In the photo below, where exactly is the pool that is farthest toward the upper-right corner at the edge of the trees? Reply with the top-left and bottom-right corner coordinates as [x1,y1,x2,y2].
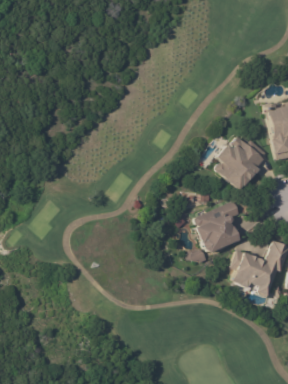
[265,84,288,98]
